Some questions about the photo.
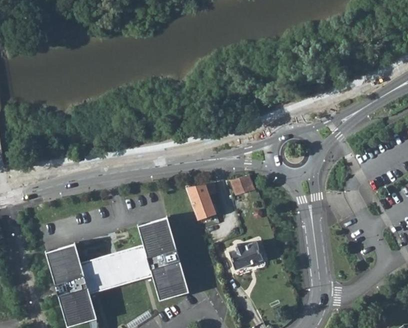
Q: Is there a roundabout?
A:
Yes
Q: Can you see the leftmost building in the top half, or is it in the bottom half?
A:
bottom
